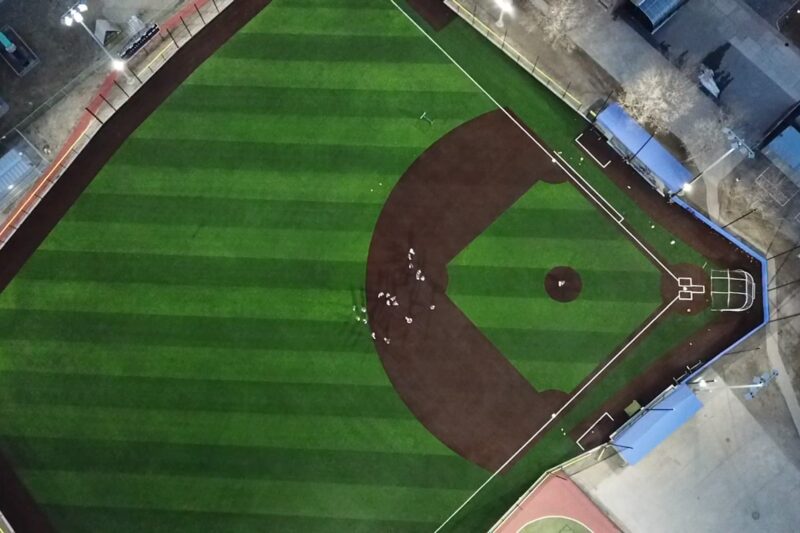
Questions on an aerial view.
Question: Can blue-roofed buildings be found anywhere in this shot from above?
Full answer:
Yes, the photo shows a blue-roofed building.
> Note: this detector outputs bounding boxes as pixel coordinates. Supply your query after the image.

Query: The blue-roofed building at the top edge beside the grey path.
[605,0,698,44]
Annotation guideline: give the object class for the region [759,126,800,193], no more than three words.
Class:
building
